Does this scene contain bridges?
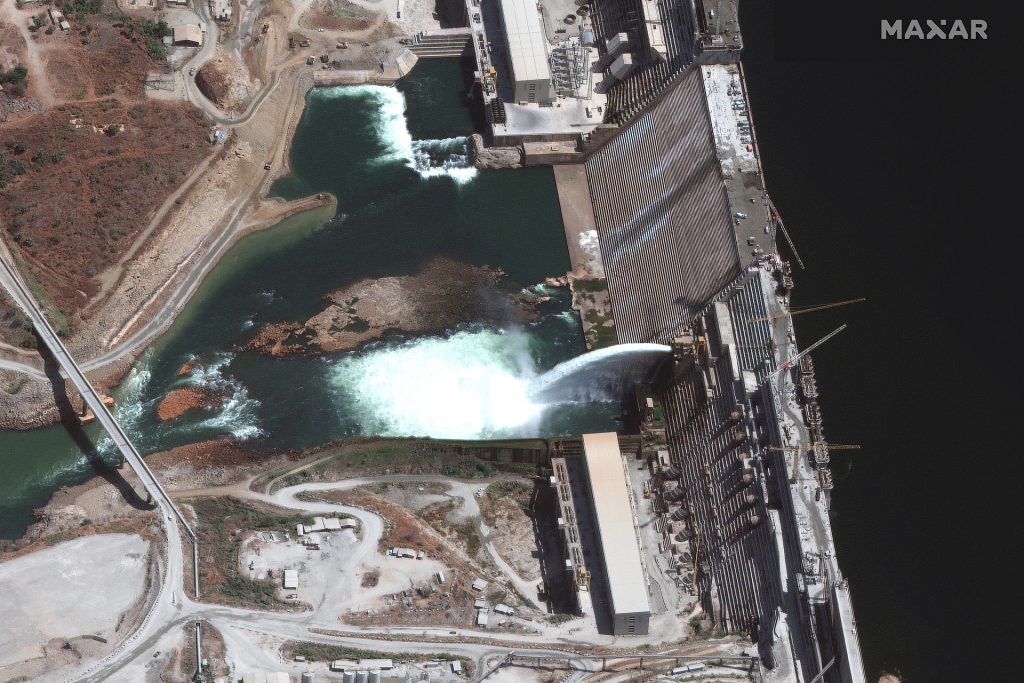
Yes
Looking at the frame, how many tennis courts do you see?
0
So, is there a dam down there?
Yes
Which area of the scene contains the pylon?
top left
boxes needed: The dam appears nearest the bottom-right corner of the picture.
[553,0,866,683]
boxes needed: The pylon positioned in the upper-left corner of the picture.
[145,79,173,100]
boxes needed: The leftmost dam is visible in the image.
[408,27,469,62]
